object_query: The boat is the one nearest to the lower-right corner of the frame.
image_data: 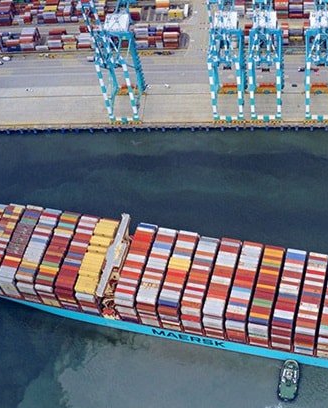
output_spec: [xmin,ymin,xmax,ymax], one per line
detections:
[277,361,300,405]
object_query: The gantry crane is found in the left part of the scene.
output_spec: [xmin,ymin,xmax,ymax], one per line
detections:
[83,0,145,121]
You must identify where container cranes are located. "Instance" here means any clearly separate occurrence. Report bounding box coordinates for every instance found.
[248,0,283,121]
[83,0,145,121]
[207,0,247,121]
[302,0,328,121]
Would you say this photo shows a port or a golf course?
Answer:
port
